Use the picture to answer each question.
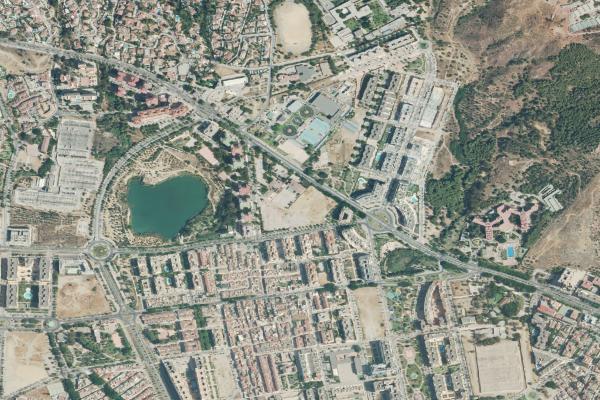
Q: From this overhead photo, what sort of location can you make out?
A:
residential area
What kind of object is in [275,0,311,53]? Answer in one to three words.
sports field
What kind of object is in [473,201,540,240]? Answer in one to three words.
building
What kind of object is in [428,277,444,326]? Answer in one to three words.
building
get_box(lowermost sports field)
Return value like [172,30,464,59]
[478,340,524,393]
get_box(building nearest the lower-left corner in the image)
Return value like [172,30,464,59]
[47,377,67,399]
